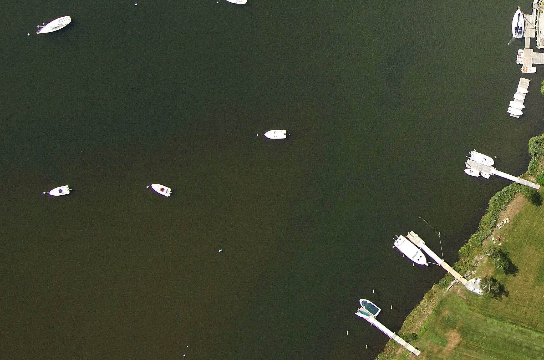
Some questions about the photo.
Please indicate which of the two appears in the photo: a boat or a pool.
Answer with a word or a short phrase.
boat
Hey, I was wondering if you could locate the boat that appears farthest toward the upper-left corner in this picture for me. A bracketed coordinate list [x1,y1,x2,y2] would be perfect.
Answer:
[36,15,73,33]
